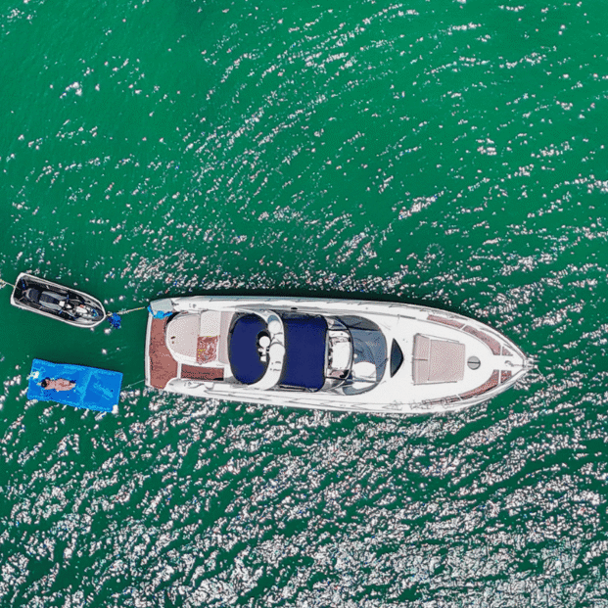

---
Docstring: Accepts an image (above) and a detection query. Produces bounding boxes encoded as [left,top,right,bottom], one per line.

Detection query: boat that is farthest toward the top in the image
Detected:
[13,273,107,327]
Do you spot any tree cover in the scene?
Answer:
No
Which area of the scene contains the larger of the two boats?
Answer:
center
